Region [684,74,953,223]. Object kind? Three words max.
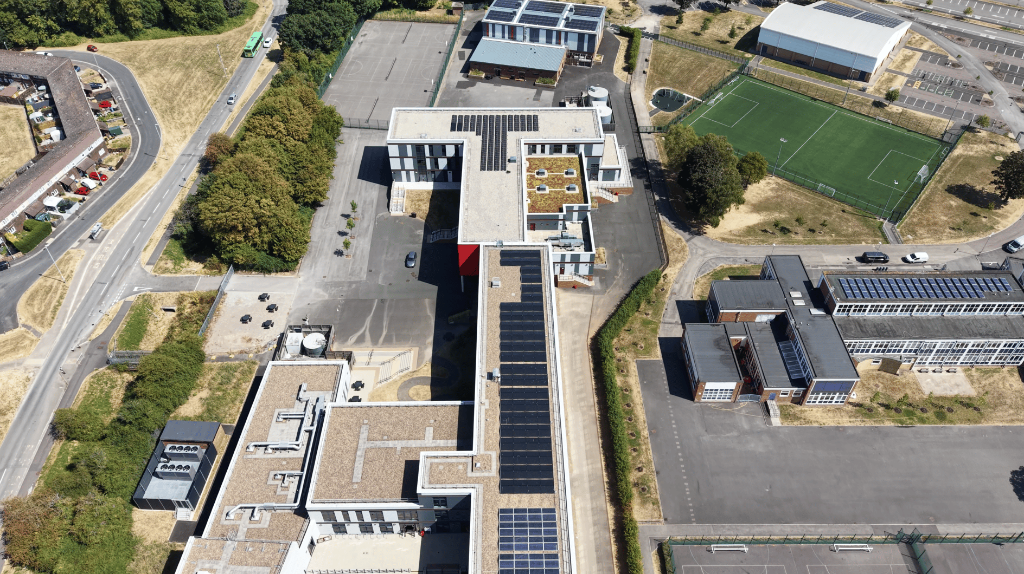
soccer field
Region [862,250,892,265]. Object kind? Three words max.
vehicle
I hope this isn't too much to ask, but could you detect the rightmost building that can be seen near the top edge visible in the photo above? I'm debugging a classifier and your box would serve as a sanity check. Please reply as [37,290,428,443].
[758,0,913,81]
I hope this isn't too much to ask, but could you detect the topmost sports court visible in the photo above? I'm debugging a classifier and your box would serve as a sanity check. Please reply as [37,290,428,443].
[327,20,459,127]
